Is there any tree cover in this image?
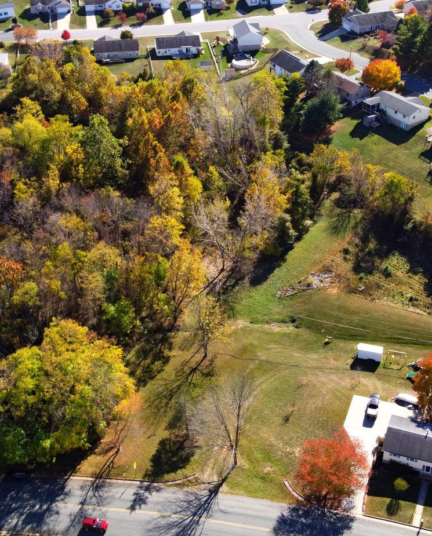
Yes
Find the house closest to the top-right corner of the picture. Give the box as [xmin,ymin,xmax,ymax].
[392,0,432,21]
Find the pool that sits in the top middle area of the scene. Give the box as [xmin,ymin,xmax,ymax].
[224,50,254,67]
